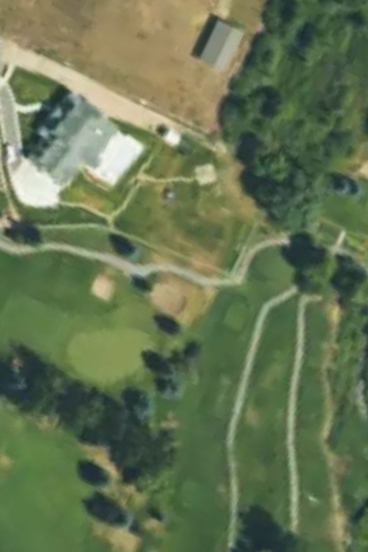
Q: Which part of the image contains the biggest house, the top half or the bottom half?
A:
top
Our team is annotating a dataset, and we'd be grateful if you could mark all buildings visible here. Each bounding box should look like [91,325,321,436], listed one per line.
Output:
[162,128,182,147]
[32,91,144,185]
[201,17,244,69]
